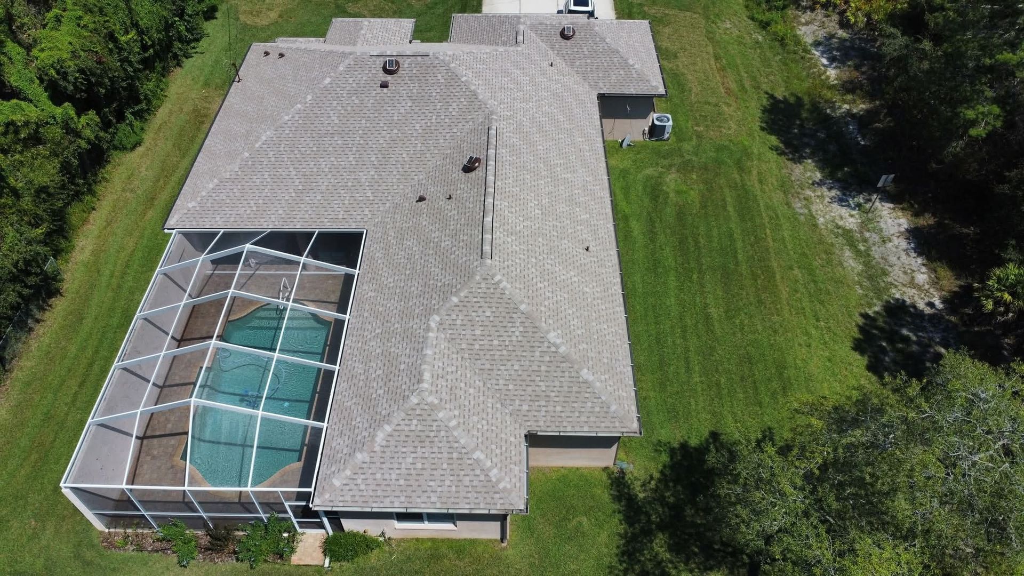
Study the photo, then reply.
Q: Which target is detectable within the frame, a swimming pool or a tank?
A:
swimming pool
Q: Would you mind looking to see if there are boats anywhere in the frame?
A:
No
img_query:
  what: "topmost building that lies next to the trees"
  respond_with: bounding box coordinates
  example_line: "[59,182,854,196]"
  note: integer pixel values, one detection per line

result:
[161,14,666,544]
